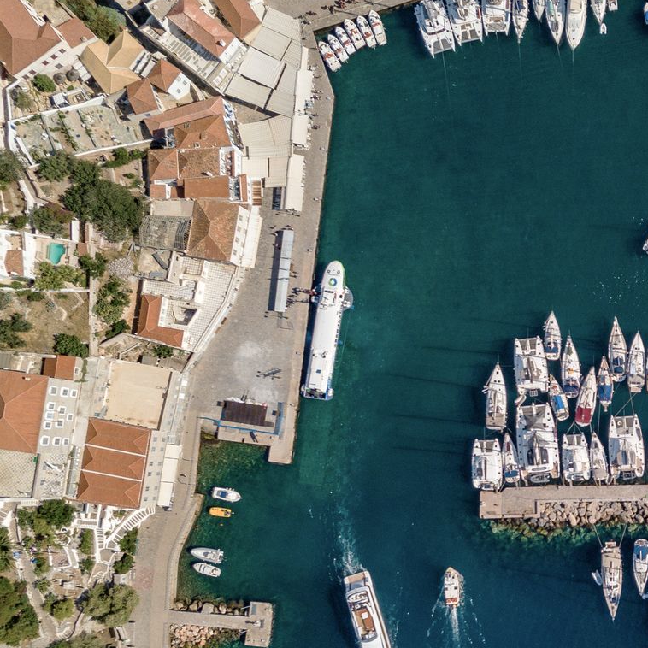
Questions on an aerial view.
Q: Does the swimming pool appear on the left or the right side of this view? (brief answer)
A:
left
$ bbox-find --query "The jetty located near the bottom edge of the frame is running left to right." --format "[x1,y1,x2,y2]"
[170,602,274,647]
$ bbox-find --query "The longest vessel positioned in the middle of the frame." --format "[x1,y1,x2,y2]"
[305,261,351,404]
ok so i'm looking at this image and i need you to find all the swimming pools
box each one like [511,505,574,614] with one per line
[38,237,82,266]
